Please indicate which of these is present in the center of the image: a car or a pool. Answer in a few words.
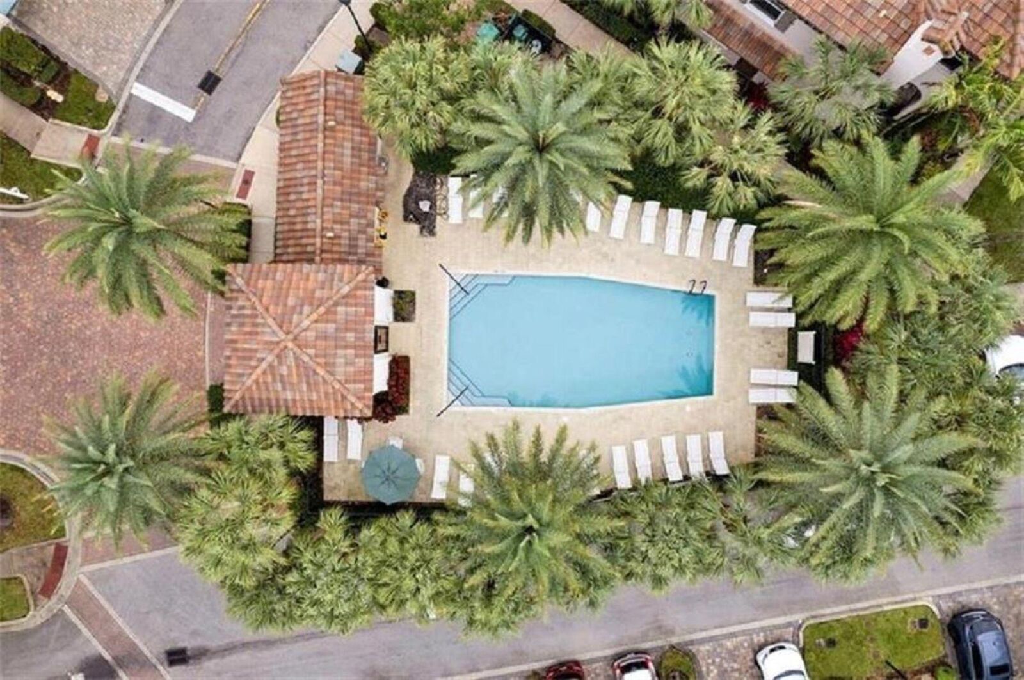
pool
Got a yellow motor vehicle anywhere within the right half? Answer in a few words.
No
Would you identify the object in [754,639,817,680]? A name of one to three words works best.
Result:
car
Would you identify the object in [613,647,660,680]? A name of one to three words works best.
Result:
car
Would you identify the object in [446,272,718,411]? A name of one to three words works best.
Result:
swimming pool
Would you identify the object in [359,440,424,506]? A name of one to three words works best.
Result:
umbrella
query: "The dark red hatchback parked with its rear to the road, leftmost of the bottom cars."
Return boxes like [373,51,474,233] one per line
[545,656,588,680]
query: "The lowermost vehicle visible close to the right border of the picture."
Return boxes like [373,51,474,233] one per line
[942,606,1015,680]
